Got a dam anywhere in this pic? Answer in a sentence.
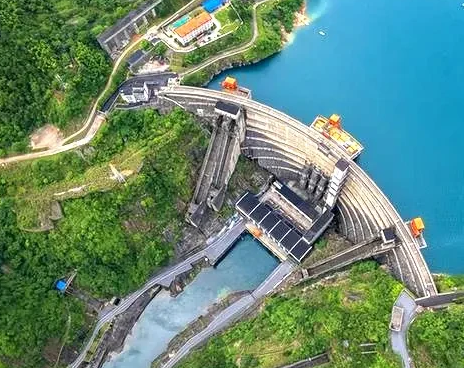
Yes, a dam can be made out from above.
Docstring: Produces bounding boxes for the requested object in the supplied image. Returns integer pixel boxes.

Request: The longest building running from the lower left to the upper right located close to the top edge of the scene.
[175,12,213,44]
